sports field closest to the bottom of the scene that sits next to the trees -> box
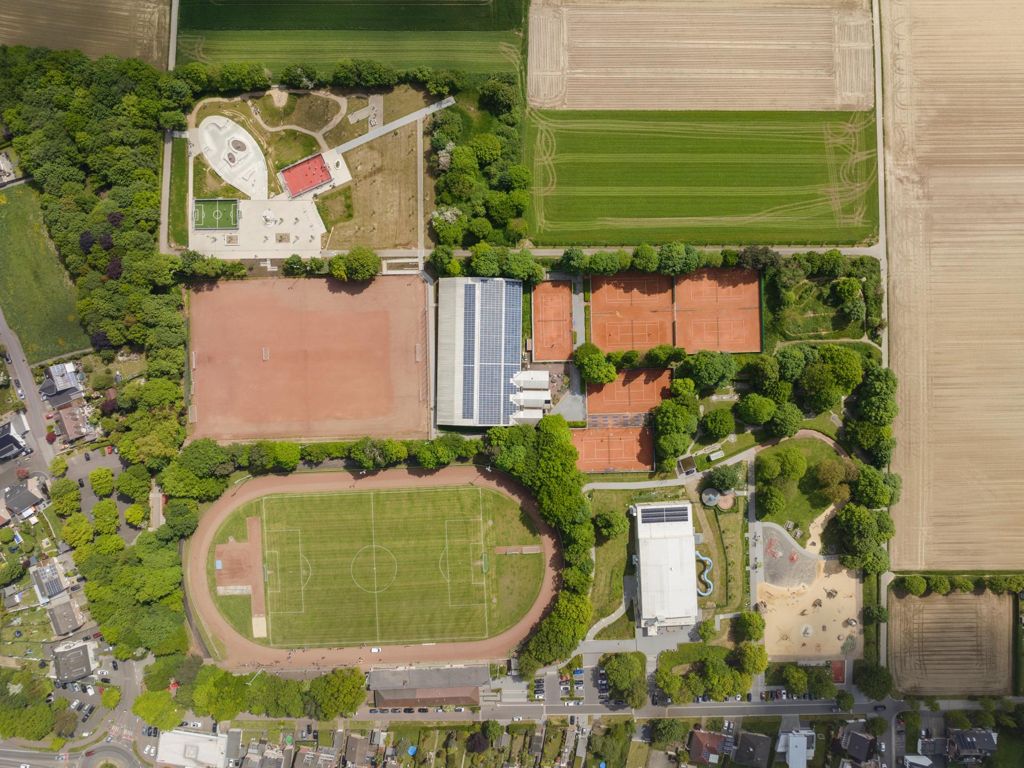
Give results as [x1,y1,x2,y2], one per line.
[206,486,545,649]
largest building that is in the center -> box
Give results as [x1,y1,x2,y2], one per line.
[437,278,523,425]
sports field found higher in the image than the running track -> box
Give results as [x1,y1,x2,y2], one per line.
[186,274,429,445]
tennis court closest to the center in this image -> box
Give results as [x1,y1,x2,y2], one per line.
[533,280,573,361]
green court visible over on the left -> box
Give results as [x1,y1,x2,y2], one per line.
[189,197,242,230]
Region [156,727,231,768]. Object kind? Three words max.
building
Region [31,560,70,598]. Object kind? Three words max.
house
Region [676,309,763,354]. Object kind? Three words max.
tennis court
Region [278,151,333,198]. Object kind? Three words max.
sports court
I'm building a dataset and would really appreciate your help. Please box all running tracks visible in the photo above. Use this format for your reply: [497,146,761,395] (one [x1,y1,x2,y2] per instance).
[189,466,564,668]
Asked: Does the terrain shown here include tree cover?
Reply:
Yes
